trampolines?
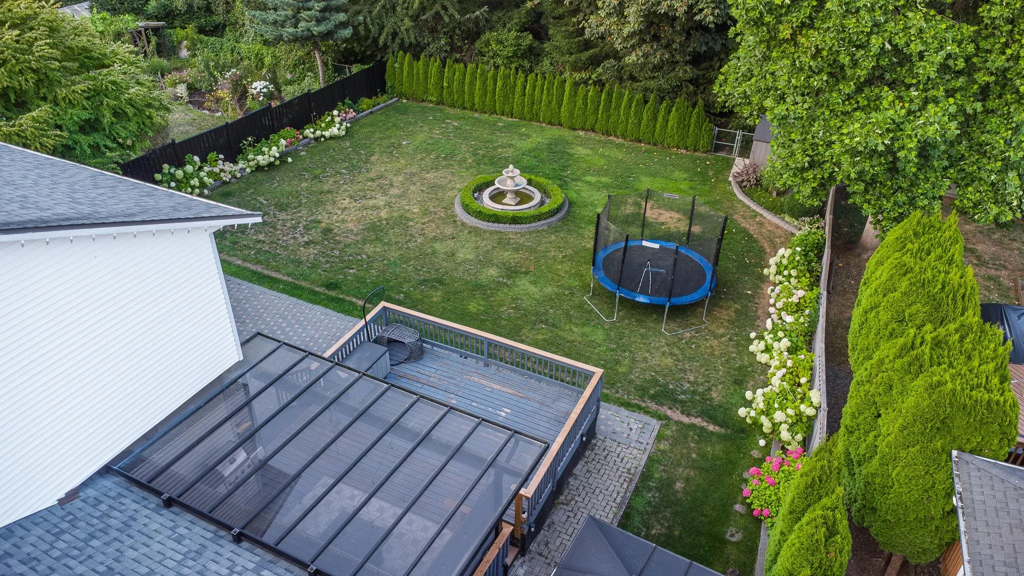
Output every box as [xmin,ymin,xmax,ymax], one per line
[584,186,732,334]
